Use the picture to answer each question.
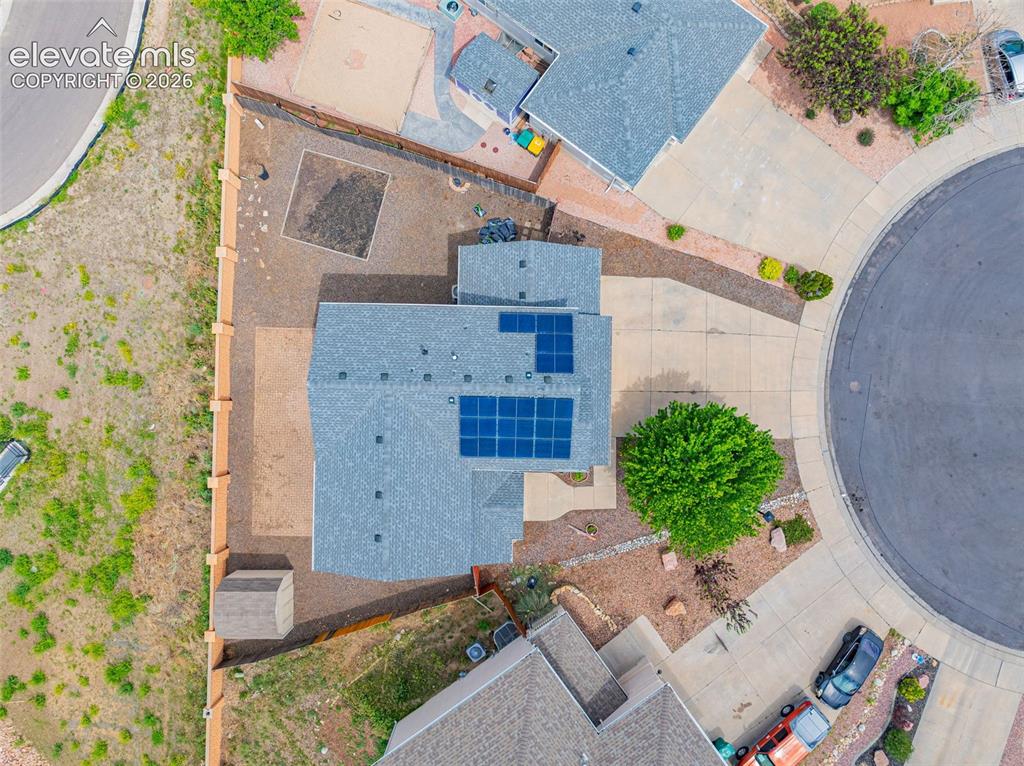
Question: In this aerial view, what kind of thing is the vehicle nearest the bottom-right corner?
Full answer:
The vehicle nearest the bottom-right corner in the image is an automobile.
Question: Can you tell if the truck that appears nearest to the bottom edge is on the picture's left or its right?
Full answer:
It is on the right.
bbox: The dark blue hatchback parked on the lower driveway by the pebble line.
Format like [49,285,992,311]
[817,631,885,710]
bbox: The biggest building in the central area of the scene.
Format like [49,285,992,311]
[307,240,612,580]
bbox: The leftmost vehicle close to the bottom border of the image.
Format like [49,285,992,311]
[733,698,832,766]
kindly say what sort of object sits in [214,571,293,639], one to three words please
shed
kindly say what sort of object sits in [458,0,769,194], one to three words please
house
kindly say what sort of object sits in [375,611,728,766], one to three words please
house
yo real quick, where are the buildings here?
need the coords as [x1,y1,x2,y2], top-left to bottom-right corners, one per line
[375,611,728,766]
[214,571,293,639]
[458,0,769,194]
[307,240,612,580]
